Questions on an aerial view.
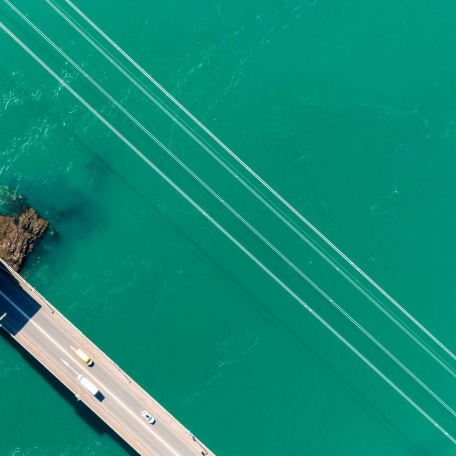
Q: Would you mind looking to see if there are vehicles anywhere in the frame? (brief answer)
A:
Yes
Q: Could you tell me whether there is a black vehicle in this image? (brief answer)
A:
No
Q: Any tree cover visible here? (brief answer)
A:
No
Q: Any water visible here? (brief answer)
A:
Yes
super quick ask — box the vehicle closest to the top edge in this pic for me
[75,348,92,365]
